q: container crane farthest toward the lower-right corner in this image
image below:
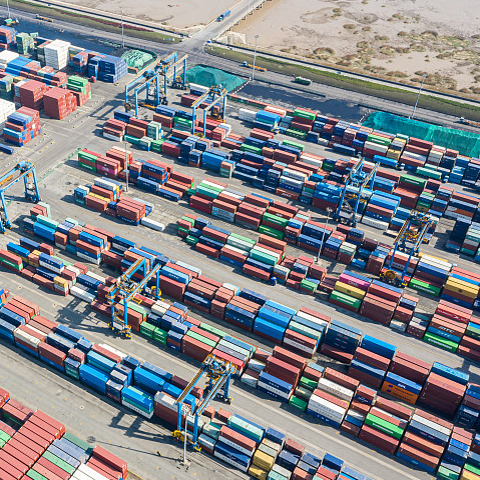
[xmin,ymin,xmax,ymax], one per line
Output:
[375,212,432,289]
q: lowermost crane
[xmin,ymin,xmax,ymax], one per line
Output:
[167,352,238,453]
